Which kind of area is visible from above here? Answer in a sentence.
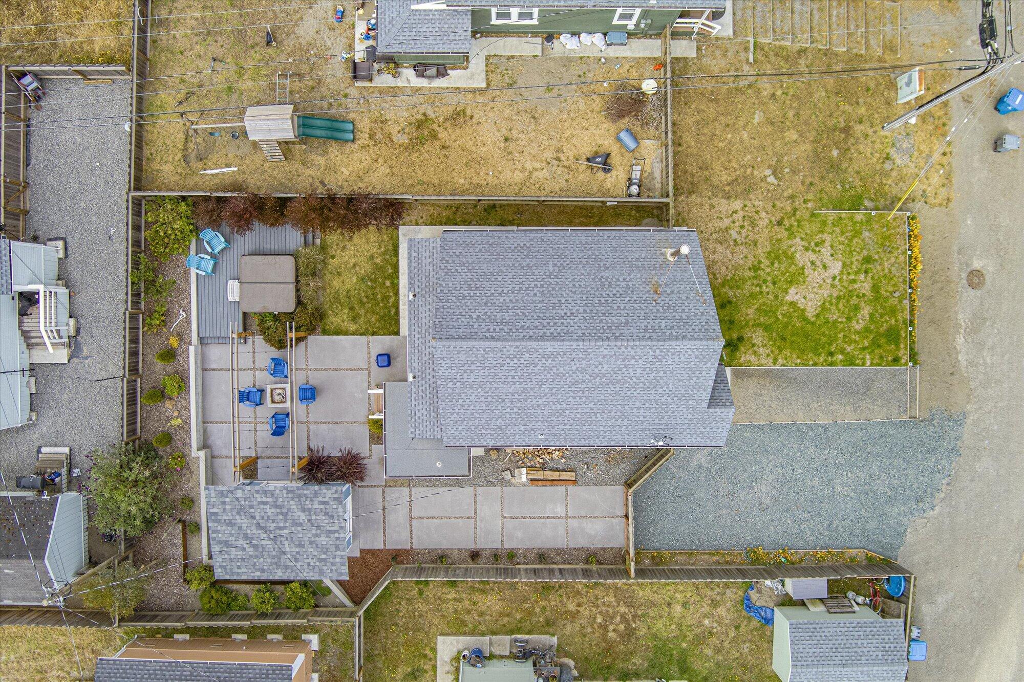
What you see here is a residential area.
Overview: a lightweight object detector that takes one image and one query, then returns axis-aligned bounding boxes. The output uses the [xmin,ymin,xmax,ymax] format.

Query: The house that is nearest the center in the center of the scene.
[383,227,733,479]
